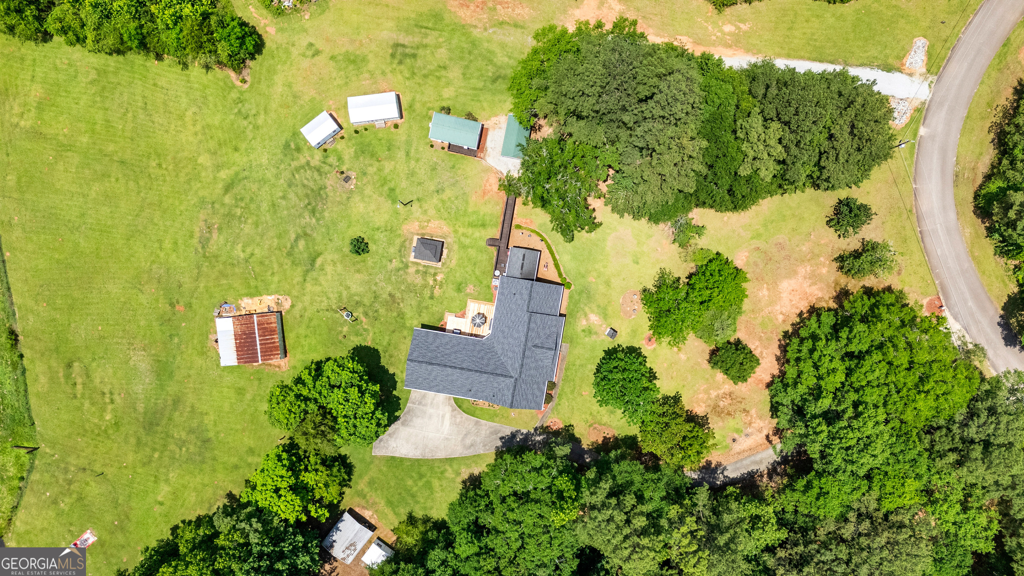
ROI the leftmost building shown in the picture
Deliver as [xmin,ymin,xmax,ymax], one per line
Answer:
[216,313,288,366]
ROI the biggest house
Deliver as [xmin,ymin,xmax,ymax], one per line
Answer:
[404,246,566,411]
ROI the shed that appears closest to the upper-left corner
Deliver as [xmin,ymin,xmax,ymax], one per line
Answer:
[300,110,341,151]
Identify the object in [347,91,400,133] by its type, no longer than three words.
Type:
shed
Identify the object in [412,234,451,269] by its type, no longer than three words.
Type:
gazebo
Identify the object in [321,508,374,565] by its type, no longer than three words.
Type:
shed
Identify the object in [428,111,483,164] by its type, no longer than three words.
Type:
house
